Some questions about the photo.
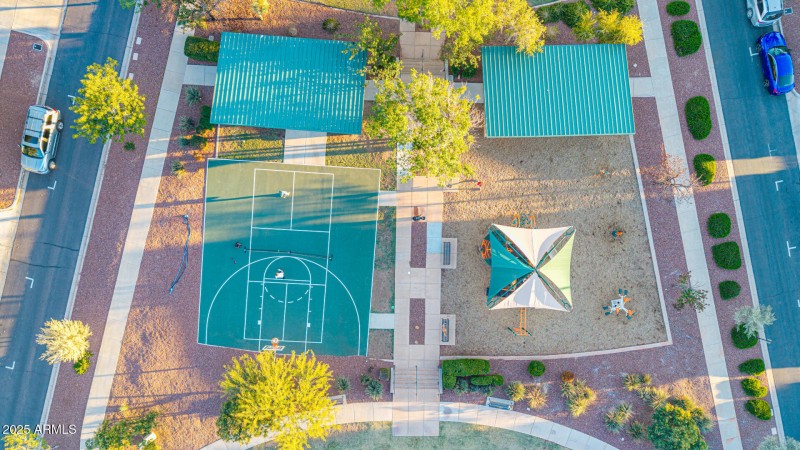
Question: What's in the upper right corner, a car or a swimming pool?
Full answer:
There is a car in the upper right corner.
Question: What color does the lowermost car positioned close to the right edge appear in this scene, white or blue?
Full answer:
The lowermost car positioned close to the right edge is blue.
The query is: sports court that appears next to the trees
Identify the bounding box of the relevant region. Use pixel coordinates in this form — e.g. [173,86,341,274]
[198,159,380,356]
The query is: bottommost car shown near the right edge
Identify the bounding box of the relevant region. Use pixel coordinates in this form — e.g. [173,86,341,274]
[756,29,797,92]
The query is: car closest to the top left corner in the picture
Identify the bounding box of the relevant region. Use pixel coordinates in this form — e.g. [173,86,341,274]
[20,106,63,173]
